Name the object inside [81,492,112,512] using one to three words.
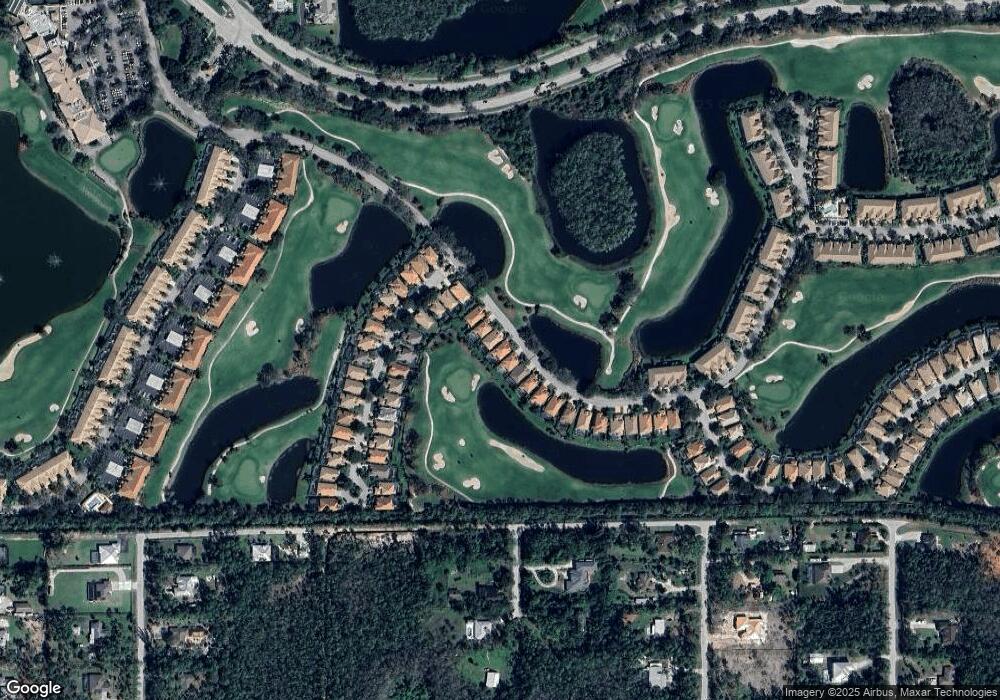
swimming pool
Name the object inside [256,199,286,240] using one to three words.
building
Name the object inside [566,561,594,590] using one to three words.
house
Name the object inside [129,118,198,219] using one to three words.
pond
